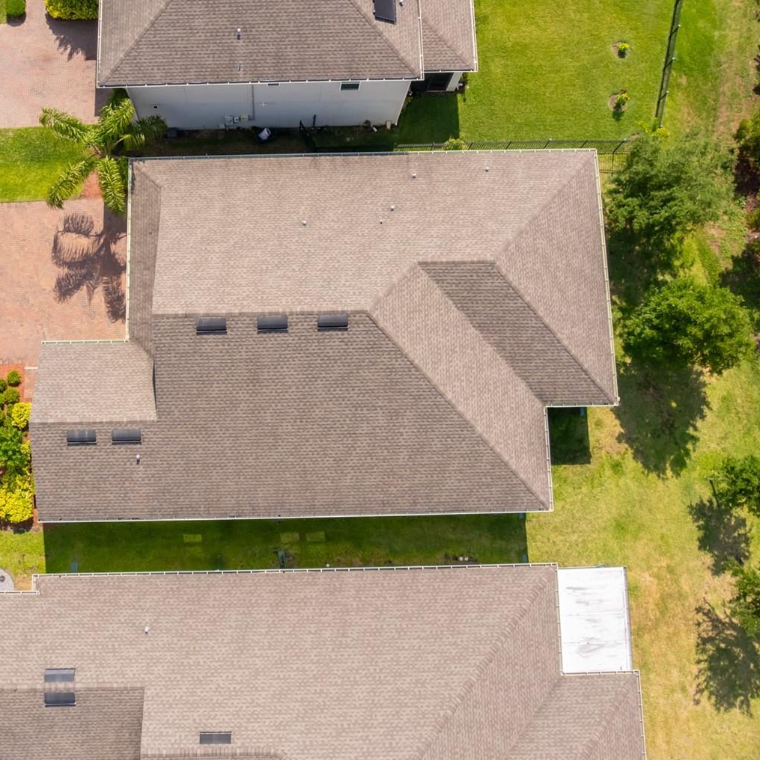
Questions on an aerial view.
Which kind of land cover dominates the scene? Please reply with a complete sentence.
The scene is dominated by buildings.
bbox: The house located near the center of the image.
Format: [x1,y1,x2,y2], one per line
[29,147,622,523]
